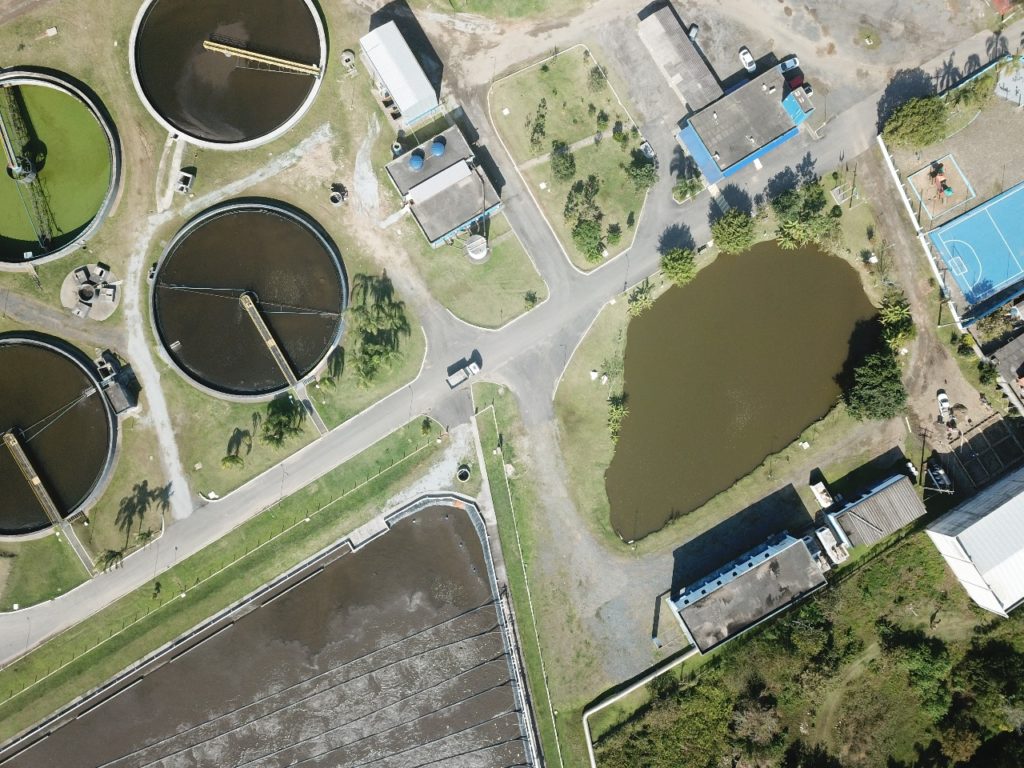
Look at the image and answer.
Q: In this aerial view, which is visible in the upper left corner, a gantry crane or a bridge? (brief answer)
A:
bridge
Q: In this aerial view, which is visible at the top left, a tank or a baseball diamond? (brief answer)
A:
tank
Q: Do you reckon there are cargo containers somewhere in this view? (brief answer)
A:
Yes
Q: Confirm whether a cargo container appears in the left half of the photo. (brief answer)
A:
No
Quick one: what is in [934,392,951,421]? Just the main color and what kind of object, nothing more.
white vehicle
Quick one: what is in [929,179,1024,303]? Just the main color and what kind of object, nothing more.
blue sports court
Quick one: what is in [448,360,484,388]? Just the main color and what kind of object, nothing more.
white truck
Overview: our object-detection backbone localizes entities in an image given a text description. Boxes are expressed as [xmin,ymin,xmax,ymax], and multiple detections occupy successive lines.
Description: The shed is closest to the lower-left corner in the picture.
[106,382,138,419]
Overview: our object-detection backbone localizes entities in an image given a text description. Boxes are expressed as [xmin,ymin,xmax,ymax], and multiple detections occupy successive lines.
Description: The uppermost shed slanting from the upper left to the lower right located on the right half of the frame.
[636,6,724,118]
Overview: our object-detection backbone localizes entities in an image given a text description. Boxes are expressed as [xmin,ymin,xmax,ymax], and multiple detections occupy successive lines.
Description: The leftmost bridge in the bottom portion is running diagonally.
[0,432,65,527]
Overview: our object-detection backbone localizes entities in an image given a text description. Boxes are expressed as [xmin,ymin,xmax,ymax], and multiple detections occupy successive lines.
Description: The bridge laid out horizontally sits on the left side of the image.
[203,40,321,75]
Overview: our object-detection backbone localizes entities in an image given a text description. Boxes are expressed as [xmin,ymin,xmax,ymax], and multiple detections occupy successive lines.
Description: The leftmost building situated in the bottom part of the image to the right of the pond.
[669,531,827,653]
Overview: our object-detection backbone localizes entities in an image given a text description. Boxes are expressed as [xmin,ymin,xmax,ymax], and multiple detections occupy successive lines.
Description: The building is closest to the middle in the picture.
[386,125,501,248]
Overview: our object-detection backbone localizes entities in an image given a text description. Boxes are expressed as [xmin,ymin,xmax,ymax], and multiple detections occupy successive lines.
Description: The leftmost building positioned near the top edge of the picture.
[359,21,439,121]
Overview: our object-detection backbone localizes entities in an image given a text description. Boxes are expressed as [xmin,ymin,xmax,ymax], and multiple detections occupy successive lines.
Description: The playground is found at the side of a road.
[907,154,977,219]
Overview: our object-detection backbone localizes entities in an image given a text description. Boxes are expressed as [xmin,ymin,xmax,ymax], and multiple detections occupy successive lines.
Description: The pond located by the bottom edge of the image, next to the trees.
[0,489,542,768]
